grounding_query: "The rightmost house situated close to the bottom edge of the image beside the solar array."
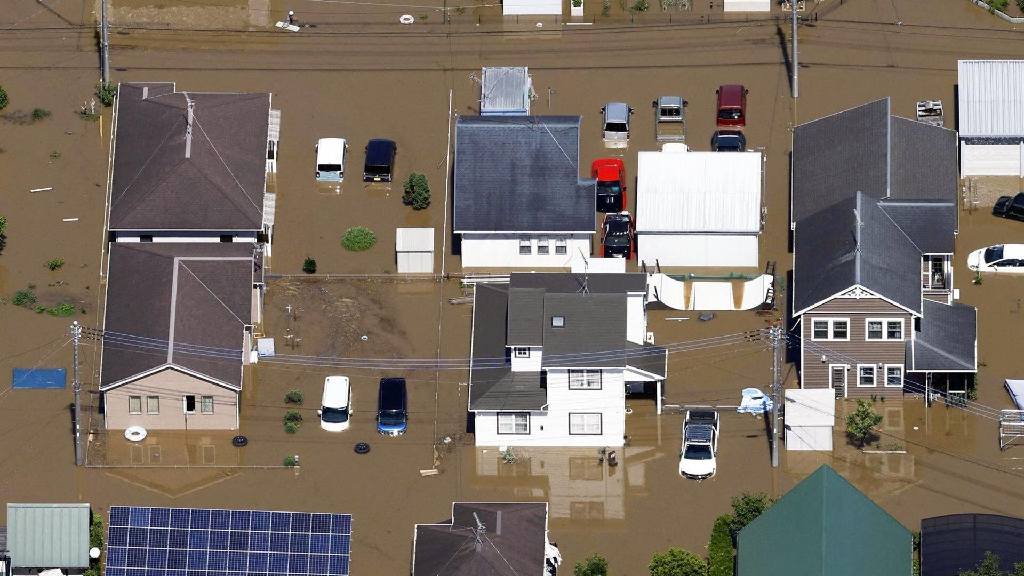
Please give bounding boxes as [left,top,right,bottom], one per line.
[412,502,549,576]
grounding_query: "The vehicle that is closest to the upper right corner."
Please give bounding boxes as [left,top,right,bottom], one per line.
[917,103,943,127]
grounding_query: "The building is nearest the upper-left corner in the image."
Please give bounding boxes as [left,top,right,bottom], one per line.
[108,78,279,259]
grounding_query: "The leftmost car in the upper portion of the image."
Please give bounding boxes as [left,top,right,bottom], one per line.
[314,138,349,181]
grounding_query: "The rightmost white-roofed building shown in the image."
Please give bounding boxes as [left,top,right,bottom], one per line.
[957,58,1024,177]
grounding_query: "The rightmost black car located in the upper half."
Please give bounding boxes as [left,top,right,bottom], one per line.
[988,185,1024,218]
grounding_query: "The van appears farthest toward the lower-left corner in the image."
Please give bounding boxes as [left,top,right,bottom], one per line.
[316,374,354,429]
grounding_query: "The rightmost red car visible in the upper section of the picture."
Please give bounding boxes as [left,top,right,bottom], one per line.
[715,85,750,126]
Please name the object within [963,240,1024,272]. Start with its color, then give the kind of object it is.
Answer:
white car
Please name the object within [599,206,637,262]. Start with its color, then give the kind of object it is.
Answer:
black car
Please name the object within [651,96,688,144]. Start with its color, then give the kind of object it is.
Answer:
gray truck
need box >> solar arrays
[100,506,356,576]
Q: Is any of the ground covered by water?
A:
Yes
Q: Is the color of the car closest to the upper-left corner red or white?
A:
white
